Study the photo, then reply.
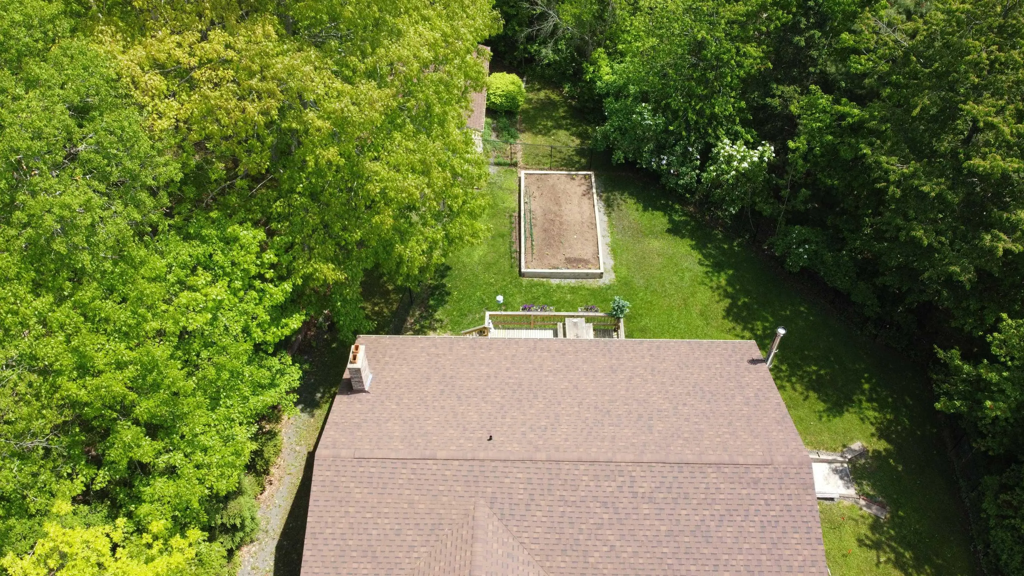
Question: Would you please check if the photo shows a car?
No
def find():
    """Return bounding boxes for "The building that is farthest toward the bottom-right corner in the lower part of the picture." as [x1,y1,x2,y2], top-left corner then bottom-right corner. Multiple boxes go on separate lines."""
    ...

[300,329,828,576]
